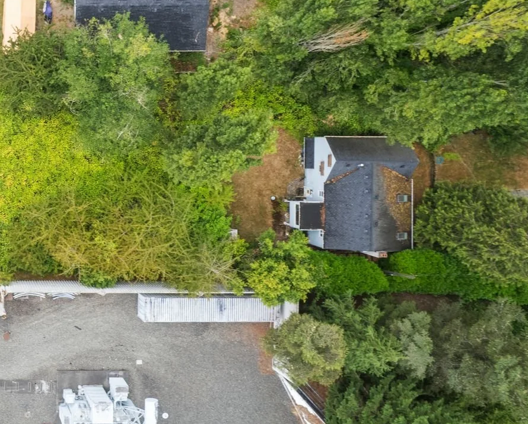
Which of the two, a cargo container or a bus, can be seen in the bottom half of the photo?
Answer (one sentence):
It is a cargo container that can be seen in the bottom half of the photo.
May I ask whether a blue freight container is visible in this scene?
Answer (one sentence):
No, the scene contains no blue freight container.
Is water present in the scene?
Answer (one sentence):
No, water can't be seen anywhere here.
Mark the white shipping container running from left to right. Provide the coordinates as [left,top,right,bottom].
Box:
[139,295,274,322]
